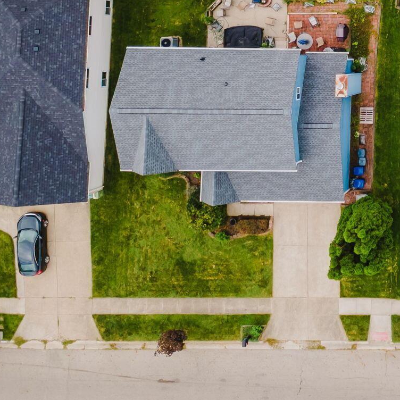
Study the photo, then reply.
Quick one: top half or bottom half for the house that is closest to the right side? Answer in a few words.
top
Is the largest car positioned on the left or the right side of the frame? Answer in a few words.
left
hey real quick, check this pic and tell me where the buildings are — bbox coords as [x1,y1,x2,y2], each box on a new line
[0,0,113,205]
[111,46,363,205]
